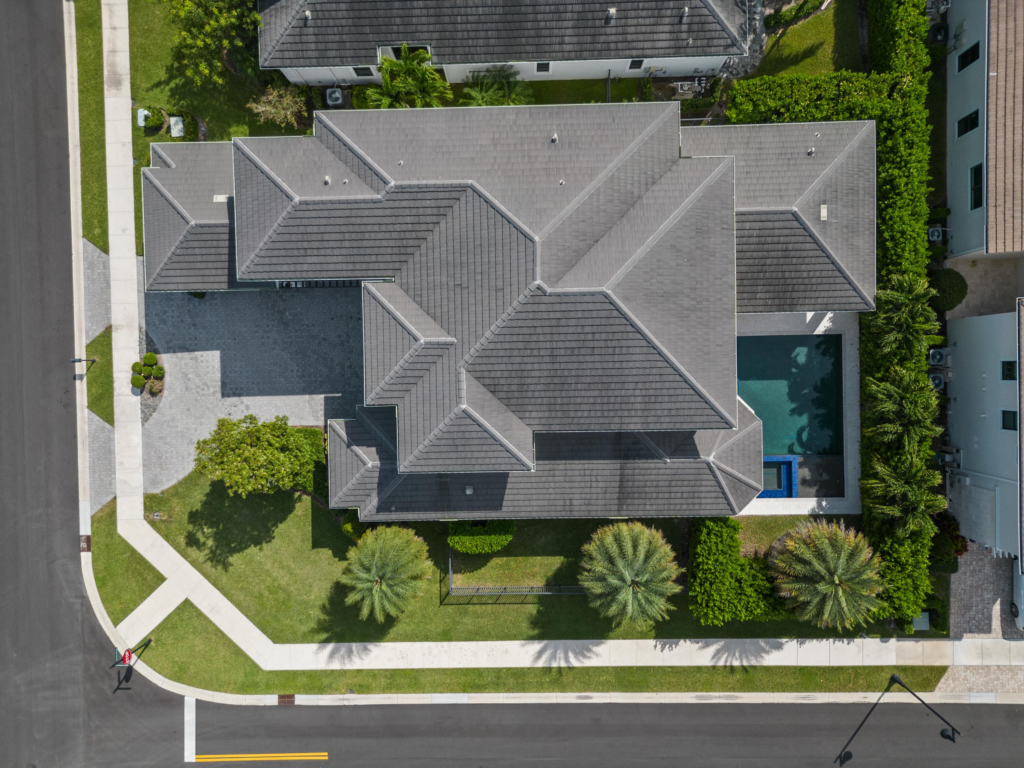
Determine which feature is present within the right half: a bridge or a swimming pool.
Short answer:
swimming pool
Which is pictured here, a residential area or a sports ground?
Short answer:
residential area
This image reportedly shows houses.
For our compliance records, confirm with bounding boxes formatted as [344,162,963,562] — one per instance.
[946,0,1024,260]
[141,101,876,521]
[258,0,748,87]
[948,298,1024,575]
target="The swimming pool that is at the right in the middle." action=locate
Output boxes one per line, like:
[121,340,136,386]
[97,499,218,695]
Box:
[738,328,851,505]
